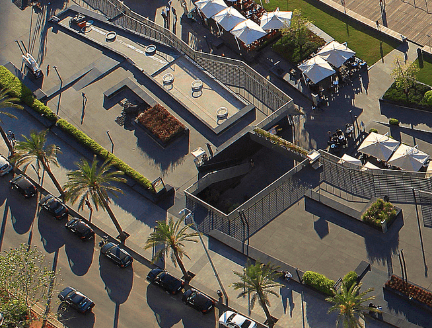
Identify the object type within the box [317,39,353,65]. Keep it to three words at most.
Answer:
umbrella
